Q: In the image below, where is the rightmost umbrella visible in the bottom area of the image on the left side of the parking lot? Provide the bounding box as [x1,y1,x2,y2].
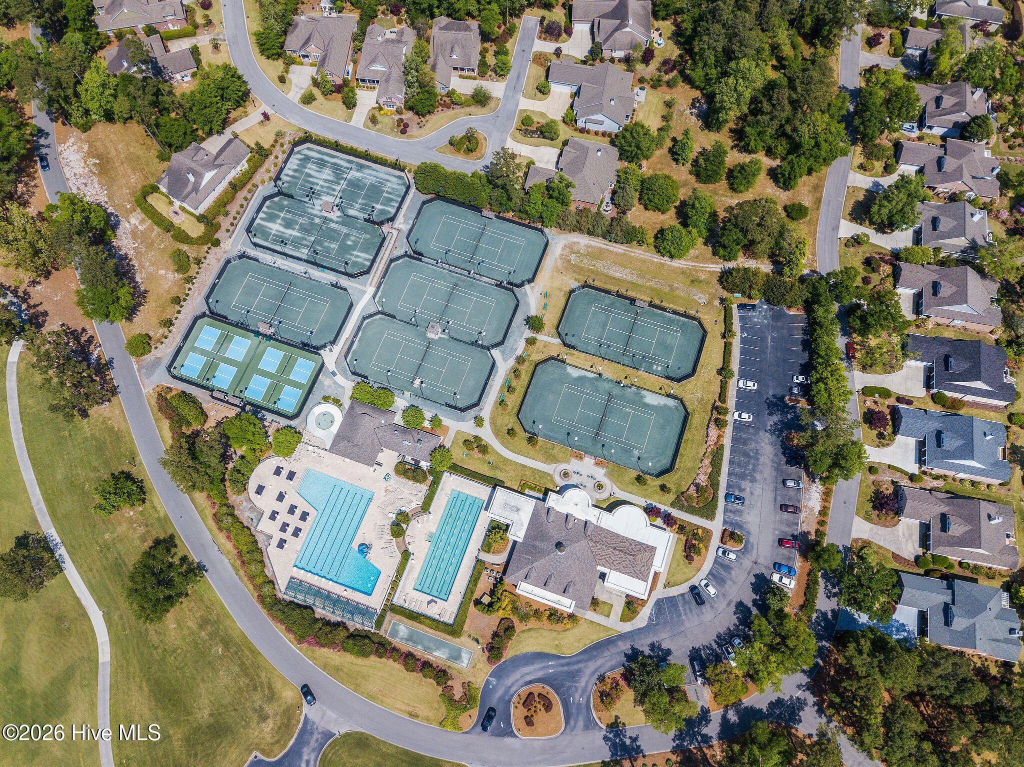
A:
[422,598,440,617]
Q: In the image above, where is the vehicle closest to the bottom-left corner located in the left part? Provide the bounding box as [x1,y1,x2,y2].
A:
[299,684,316,707]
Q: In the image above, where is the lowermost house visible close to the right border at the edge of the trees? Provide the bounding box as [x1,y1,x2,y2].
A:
[895,573,1024,663]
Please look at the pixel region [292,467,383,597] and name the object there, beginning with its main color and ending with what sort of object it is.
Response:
blue swimming pool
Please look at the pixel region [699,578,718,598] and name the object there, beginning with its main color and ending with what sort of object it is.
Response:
white car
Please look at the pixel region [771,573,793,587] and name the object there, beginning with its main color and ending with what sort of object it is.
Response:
white car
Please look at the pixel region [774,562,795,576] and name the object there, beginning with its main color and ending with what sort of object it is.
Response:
blue car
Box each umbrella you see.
[291,526,302,538]
[298,510,309,522]
[272,464,283,475]
[275,537,287,550]
[268,509,279,521]
[286,503,297,515]
[285,469,296,480]
[422,598,440,617]
[275,490,286,502]
[253,483,264,495]
[279,521,290,533]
